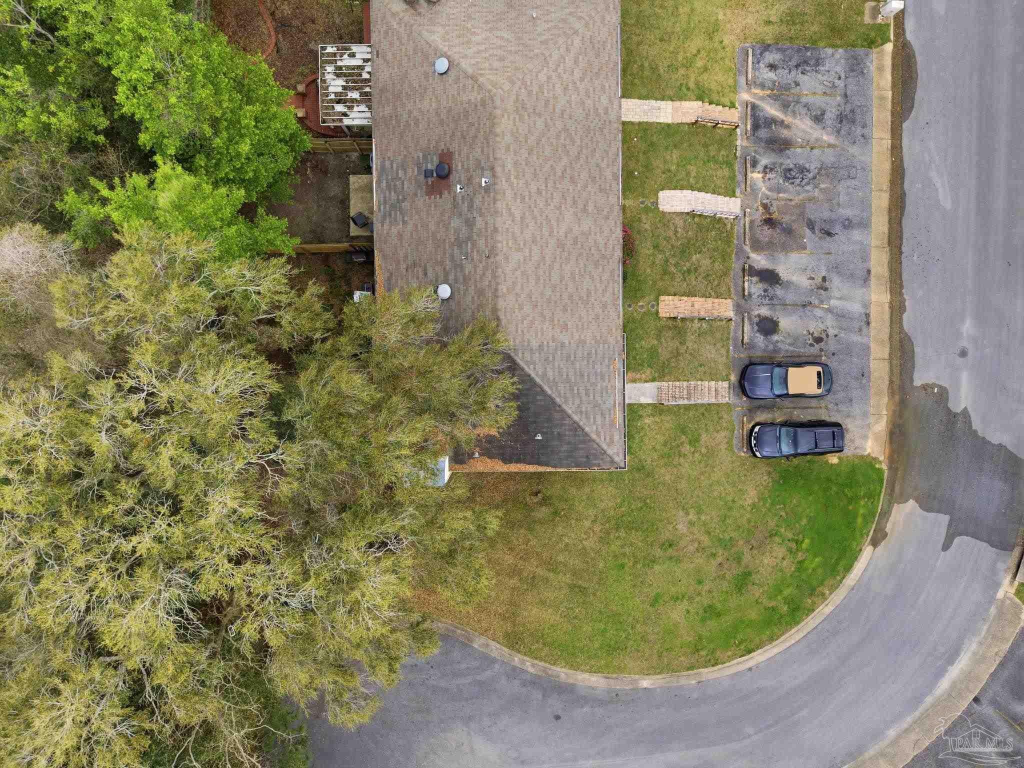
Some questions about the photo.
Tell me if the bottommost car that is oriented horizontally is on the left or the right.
right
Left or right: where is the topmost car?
right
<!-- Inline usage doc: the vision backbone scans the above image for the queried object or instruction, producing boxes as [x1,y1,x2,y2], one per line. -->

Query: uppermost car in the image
[736,359,833,402]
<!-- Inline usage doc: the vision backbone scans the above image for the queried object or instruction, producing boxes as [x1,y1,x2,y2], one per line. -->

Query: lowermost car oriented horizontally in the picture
[745,417,847,462]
